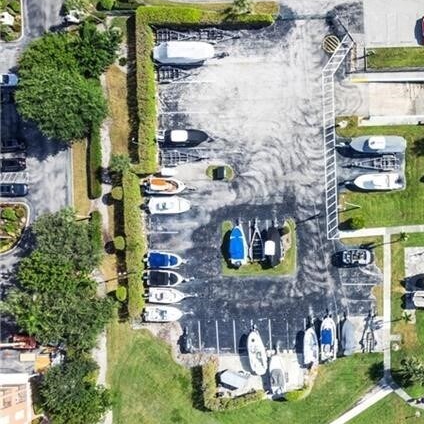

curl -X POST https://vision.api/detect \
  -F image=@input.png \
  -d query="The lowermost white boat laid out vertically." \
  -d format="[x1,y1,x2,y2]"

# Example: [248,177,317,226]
[270,355,287,403]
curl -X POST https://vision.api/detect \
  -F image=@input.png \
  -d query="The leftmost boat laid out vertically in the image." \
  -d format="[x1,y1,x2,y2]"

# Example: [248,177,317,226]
[231,228,247,270]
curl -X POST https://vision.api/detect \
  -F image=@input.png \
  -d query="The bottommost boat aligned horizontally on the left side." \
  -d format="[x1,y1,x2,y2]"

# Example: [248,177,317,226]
[143,305,183,322]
